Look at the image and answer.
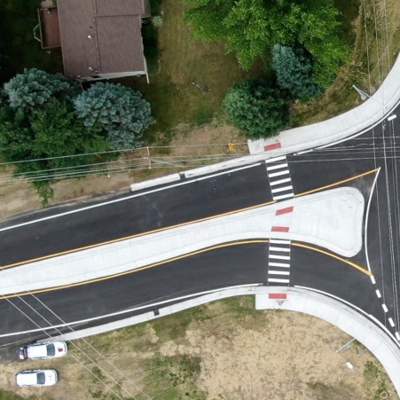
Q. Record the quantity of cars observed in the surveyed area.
2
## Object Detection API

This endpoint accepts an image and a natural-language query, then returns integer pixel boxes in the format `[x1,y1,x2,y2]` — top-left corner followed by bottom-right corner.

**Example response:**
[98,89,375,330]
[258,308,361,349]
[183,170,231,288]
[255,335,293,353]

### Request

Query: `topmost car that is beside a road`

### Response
[19,340,69,361]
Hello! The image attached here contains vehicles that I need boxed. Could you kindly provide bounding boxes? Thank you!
[19,340,69,361]
[16,368,61,388]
